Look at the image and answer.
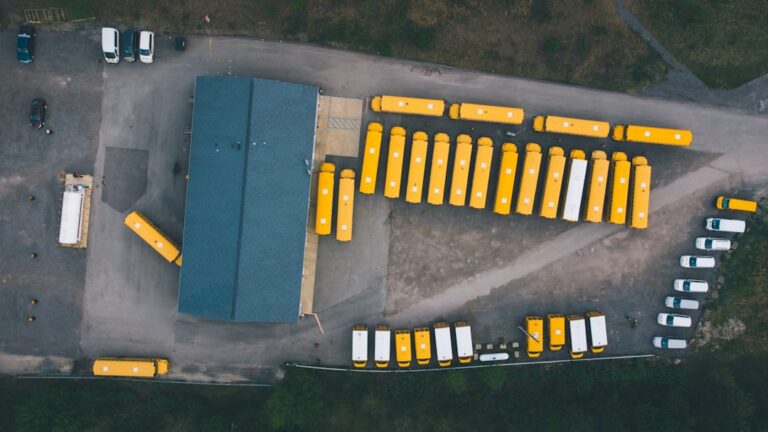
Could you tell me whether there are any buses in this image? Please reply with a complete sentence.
Yes, I can see a bus in this picture.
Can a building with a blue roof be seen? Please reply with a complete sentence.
Yes, looking at the shot, I can spot a building with a blue roof.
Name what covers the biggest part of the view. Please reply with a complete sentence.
Most of the picture is covered by paved ground.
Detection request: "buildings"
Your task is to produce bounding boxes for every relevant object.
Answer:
[178,76,320,322]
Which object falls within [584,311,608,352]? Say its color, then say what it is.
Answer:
white bus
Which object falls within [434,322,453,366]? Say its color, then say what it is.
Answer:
white vehicle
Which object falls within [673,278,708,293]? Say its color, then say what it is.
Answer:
white vehicle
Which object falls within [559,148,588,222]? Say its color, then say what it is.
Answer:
white bus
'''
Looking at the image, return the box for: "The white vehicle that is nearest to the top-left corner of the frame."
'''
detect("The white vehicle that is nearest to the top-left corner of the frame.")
[104,28,122,64]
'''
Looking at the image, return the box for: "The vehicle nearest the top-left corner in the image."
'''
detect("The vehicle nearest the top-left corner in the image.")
[17,28,35,63]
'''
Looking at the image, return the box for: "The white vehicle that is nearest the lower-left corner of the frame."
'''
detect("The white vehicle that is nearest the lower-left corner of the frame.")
[352,326,368,368]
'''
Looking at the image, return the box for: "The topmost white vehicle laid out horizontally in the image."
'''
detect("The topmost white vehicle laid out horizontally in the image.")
[704,218,746,232]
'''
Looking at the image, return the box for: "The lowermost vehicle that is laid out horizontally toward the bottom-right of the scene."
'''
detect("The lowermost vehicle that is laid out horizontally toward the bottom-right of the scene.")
[652,335,686,350]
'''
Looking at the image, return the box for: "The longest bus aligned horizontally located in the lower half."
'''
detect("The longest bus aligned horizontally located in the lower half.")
[92,356,171,377]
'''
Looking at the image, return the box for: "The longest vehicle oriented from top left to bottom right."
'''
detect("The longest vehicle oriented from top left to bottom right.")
[125,210,182,268]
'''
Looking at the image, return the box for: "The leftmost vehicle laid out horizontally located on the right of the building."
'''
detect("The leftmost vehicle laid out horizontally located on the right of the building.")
[370,96,445,118]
